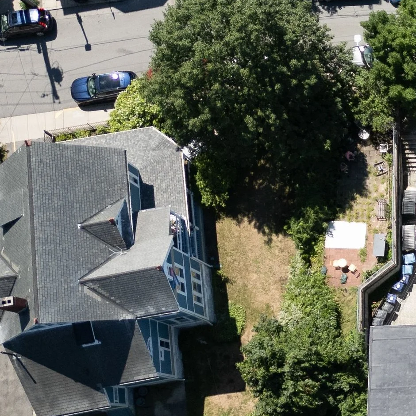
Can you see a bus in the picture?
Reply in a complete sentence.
No, the scene contains no bus.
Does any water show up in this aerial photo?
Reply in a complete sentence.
No, no water is visible.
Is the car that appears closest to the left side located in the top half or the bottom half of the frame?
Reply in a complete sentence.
You can find the car that appears closest to the left side in the top half.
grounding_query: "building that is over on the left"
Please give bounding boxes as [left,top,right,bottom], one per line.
[0,125,210,416]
